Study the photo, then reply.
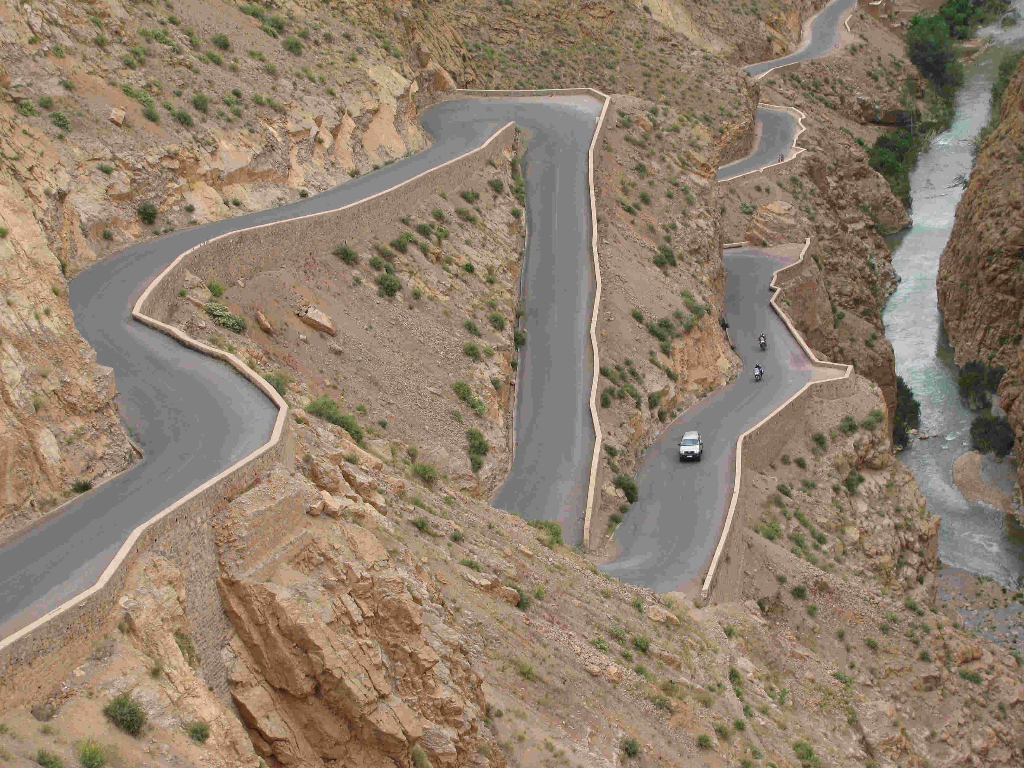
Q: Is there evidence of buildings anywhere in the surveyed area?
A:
No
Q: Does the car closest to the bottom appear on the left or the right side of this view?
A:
right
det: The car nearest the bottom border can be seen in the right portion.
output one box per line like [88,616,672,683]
[677,426,703,460]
